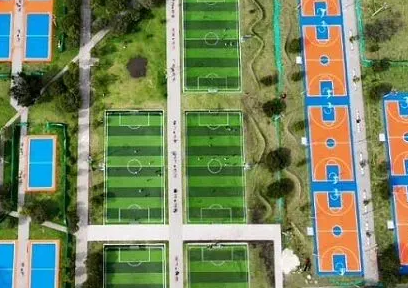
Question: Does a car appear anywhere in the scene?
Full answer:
No, there isn't any car down there.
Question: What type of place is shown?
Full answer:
What you see here is a sports ground.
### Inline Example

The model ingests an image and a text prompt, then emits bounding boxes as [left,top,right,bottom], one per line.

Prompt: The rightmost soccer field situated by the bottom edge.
[188,243,250,288]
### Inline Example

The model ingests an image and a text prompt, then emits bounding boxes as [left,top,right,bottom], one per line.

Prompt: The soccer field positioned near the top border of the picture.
[183,0,241,92]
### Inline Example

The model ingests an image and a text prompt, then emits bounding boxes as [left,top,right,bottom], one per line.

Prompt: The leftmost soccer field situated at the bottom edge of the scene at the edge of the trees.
[105,244,165,288]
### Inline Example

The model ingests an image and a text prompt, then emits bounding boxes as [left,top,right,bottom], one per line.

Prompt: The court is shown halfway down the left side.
[23,135,59,191]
